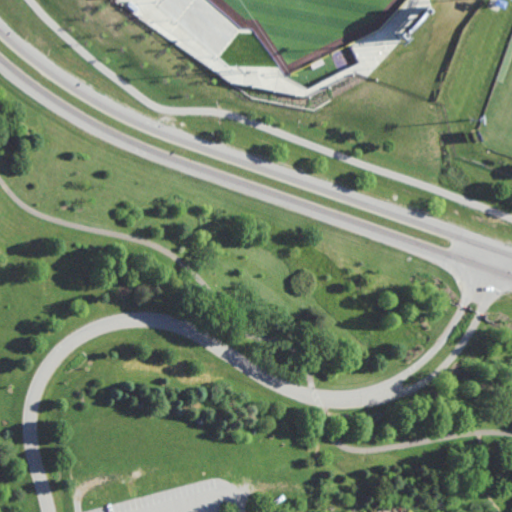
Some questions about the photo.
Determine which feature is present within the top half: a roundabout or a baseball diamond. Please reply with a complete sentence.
The feature located within the top half is a baseball diamond.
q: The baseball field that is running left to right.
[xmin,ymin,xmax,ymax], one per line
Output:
[208,0,404,74]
